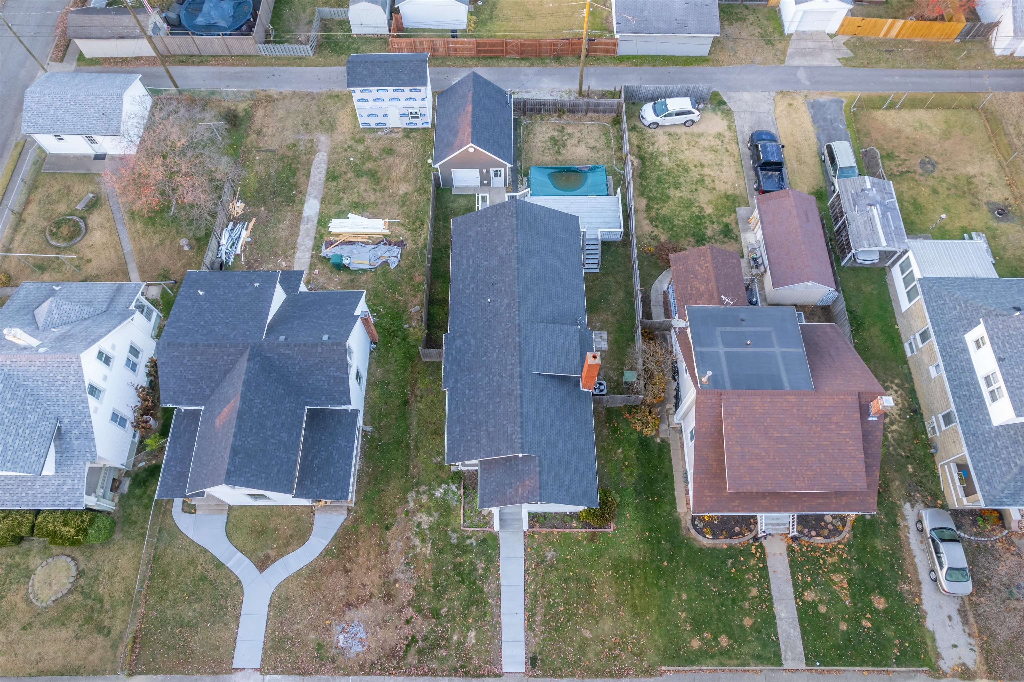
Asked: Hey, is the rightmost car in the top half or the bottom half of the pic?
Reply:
bottom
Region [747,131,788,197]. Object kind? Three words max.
truck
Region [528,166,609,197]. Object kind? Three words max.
swimming pool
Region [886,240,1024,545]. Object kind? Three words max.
house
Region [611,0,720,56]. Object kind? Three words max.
building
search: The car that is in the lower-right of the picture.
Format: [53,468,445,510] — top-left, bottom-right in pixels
[919,510,977,601]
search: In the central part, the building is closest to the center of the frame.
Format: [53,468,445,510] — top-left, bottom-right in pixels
[441,198,602,532]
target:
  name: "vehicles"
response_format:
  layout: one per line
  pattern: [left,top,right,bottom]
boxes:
[640,95,705,129]
[747,131,788,197]
[822,137,862,196]
[919,510,977,601]
[854,250,884,260]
